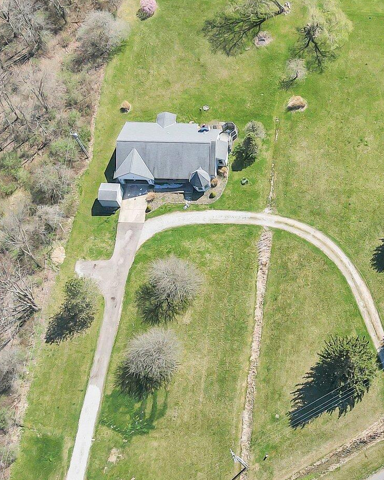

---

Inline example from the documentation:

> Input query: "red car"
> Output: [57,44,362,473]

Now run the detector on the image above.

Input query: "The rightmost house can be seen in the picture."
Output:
[112,108,234,206]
